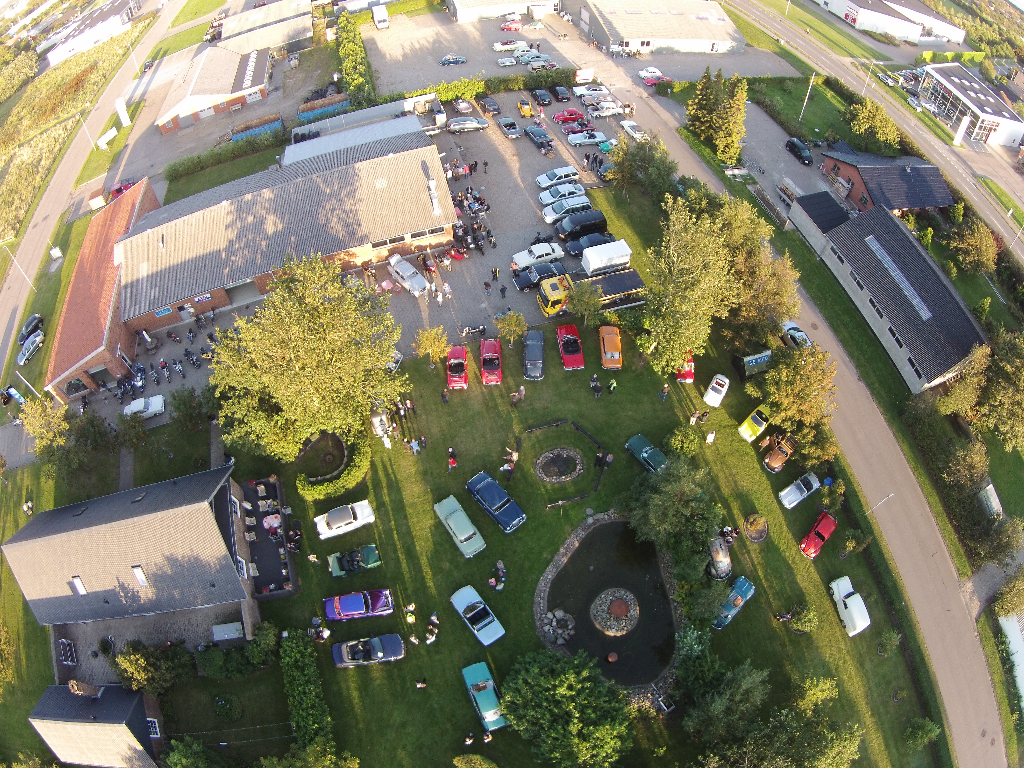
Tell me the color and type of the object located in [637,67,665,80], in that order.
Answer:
white vehicle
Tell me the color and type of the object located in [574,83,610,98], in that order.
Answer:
white car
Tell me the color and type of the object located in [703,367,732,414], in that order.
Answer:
white car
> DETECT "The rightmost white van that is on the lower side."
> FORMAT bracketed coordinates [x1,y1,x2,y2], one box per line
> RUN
[832,575,875,637]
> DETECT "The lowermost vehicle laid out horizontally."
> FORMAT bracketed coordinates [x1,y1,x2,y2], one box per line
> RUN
[332,633,407,670]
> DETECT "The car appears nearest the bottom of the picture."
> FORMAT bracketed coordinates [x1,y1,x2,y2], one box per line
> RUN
[459,661,514,734]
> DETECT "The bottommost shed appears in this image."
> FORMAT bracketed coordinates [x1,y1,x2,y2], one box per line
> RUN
[28,684,172,768]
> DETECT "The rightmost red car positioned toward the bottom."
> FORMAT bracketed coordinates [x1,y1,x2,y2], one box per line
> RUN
[800,509,841,560]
